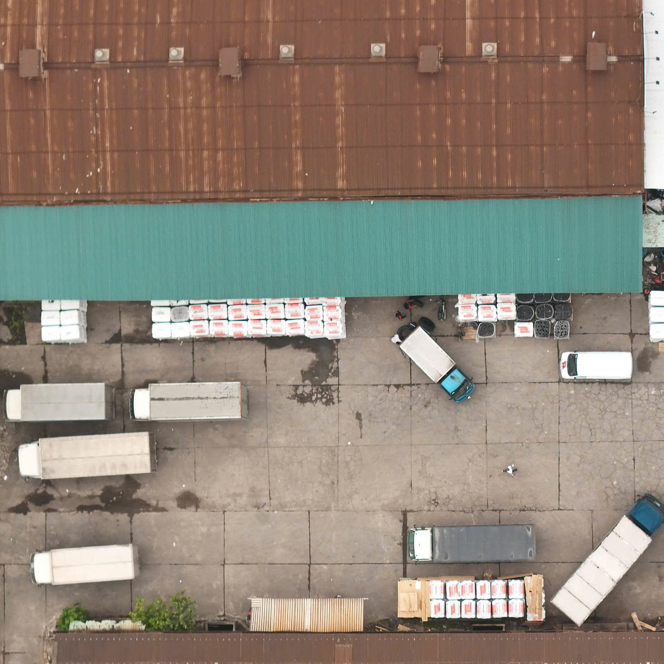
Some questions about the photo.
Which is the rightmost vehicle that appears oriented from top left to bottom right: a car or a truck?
truck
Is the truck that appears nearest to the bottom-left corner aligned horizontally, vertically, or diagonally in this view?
horizontally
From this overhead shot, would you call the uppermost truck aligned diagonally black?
No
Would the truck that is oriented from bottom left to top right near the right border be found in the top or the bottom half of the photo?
bottom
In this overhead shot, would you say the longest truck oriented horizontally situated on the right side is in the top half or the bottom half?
bottom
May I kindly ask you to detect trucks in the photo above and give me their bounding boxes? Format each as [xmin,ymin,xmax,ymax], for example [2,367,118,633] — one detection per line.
[408,522,537,564]
[16,431,160,482]
[0,383,118,426]
[130,381,248,423]
[27,543,143,589]
[551,487,664,625]
[399,326,480,407]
